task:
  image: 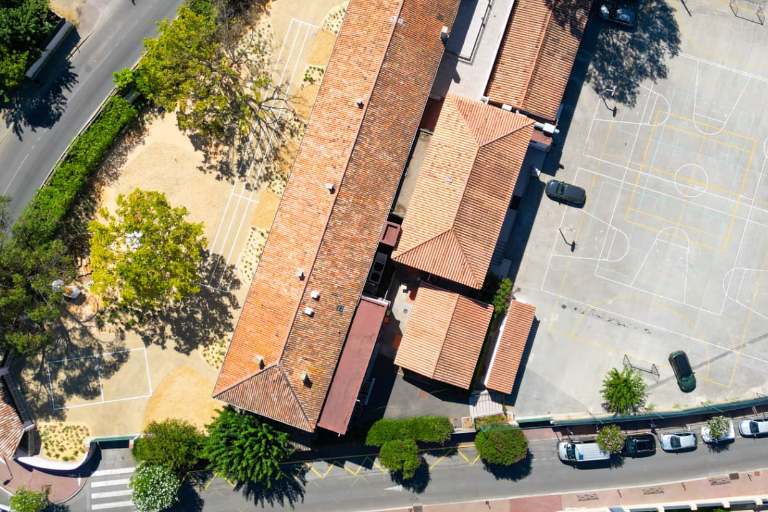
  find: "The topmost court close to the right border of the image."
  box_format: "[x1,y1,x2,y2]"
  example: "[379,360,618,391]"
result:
[478,0,768,422]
